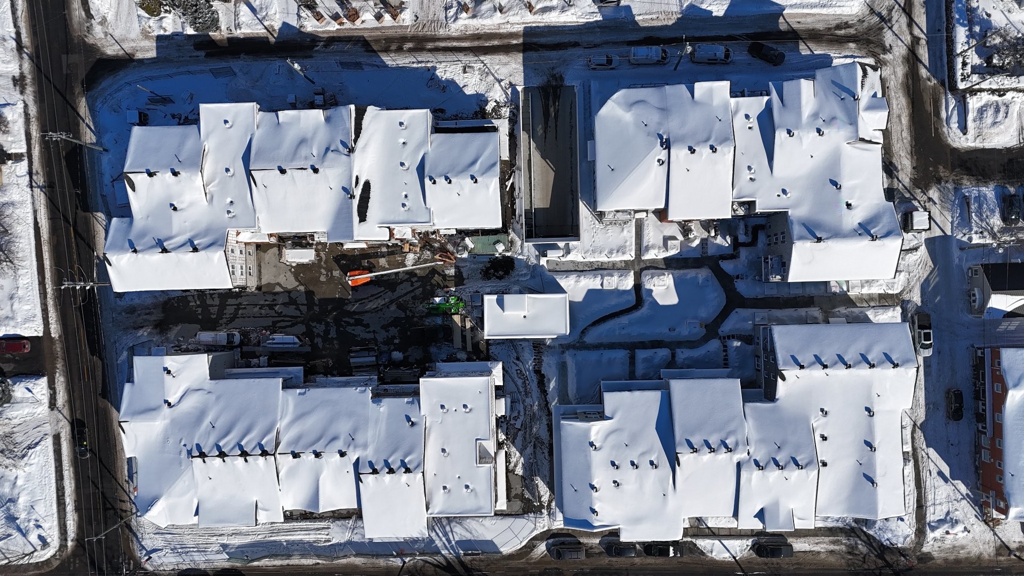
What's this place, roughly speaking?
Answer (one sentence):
This image shows a residential area.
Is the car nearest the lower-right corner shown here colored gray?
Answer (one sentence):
No, the car nearest the lower-right corner is actually black.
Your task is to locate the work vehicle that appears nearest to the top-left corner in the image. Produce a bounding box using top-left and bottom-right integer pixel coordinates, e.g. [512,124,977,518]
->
[126,111,153,126]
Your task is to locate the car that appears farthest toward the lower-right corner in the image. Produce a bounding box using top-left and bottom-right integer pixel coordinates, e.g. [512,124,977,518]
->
[944,387,964,421]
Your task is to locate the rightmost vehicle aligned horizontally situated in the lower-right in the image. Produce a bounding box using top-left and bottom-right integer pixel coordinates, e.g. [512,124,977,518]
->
[752,541,794,559]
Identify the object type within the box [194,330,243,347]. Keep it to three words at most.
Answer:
vehicle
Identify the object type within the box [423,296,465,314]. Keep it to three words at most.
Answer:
work vehicle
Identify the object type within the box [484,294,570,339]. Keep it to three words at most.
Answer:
building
